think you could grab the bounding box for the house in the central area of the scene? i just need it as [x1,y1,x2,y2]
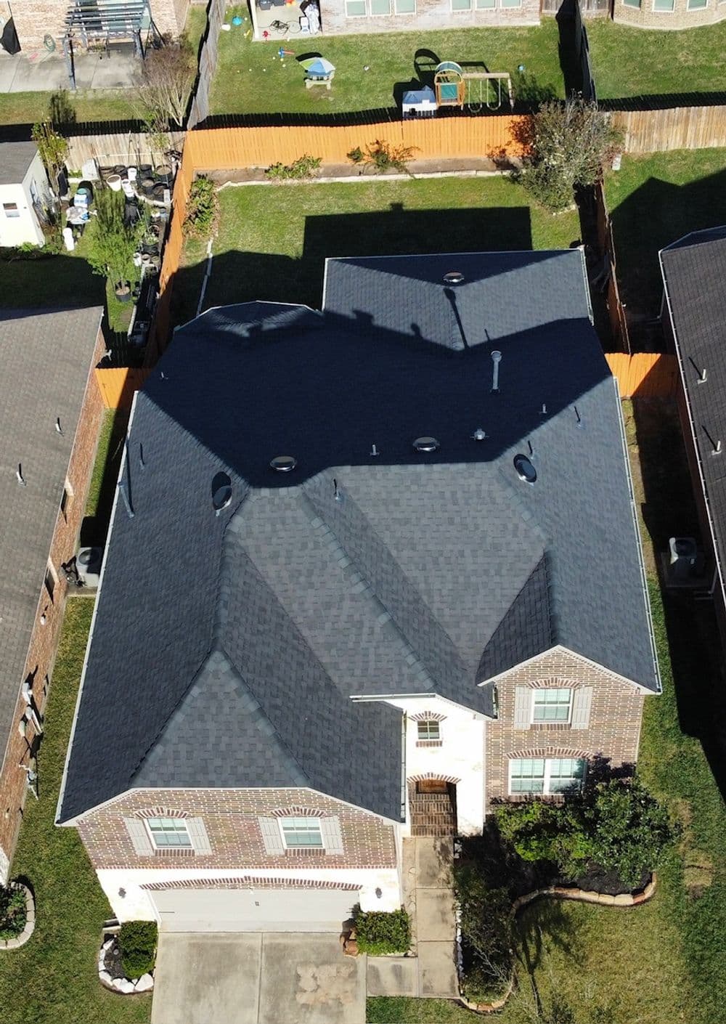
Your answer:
[49,249,666,933]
